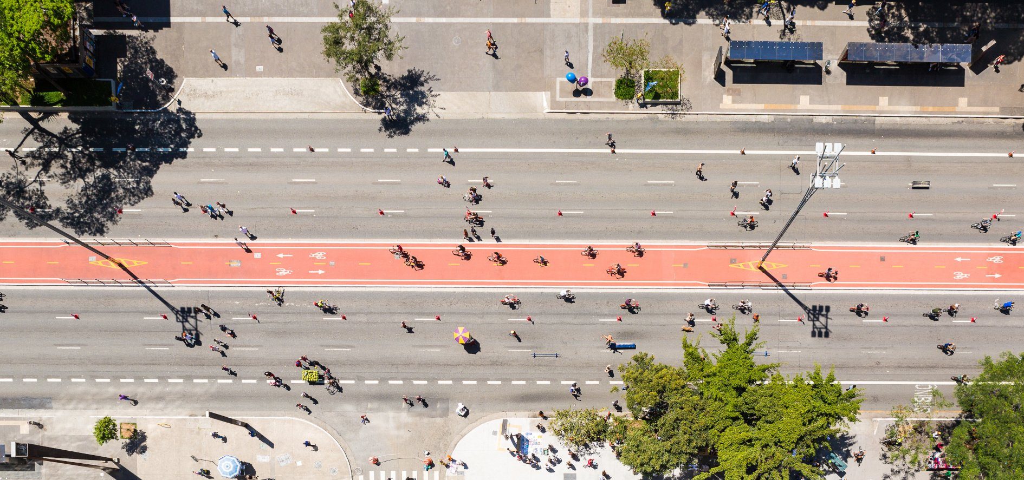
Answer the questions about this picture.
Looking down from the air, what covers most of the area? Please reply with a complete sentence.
The largest share of the image is taken up by paved ground.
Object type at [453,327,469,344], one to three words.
umbrella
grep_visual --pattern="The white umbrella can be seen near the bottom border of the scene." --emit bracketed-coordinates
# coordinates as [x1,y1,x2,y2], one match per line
[219,456,241,477]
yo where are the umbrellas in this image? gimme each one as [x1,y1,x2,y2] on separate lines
[453,327,469,344]
[219,456,241,477]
